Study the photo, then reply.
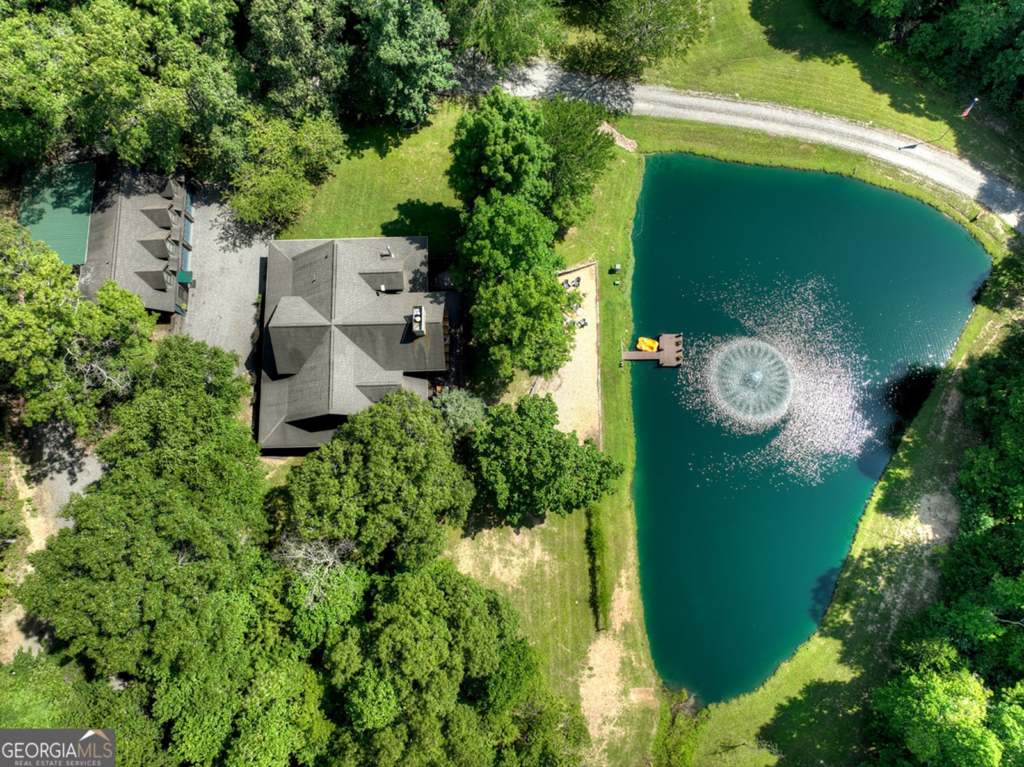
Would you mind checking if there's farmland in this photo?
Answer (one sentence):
No, there is no farmland in the image.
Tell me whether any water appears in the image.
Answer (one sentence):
Yes, the picture does contain water.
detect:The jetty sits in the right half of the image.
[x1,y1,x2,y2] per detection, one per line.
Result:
[622,332,686,367]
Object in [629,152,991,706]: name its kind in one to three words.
pond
